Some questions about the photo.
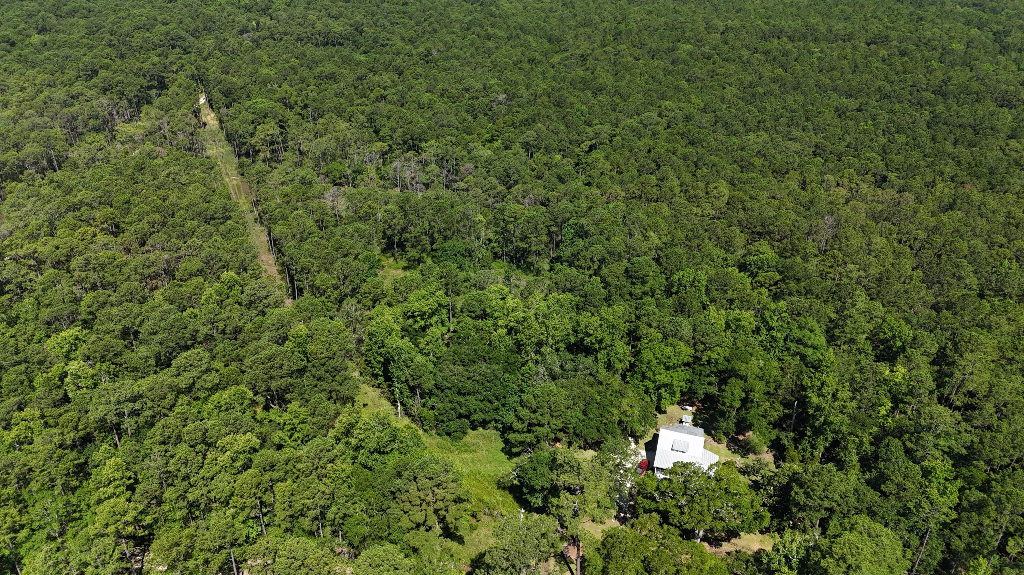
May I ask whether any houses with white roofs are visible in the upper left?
No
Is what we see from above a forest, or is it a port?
forest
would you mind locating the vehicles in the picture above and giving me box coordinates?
[637,460,652,478]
